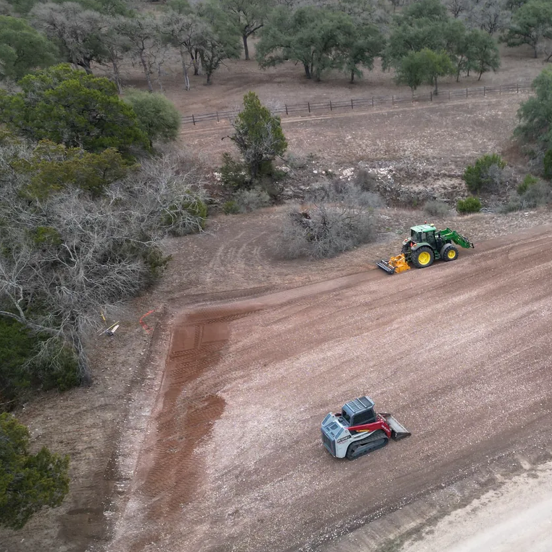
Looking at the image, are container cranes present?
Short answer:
No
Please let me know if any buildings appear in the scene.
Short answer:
No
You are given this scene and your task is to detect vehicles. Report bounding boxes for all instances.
[318,393,409,460]
[399,222,470,269]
